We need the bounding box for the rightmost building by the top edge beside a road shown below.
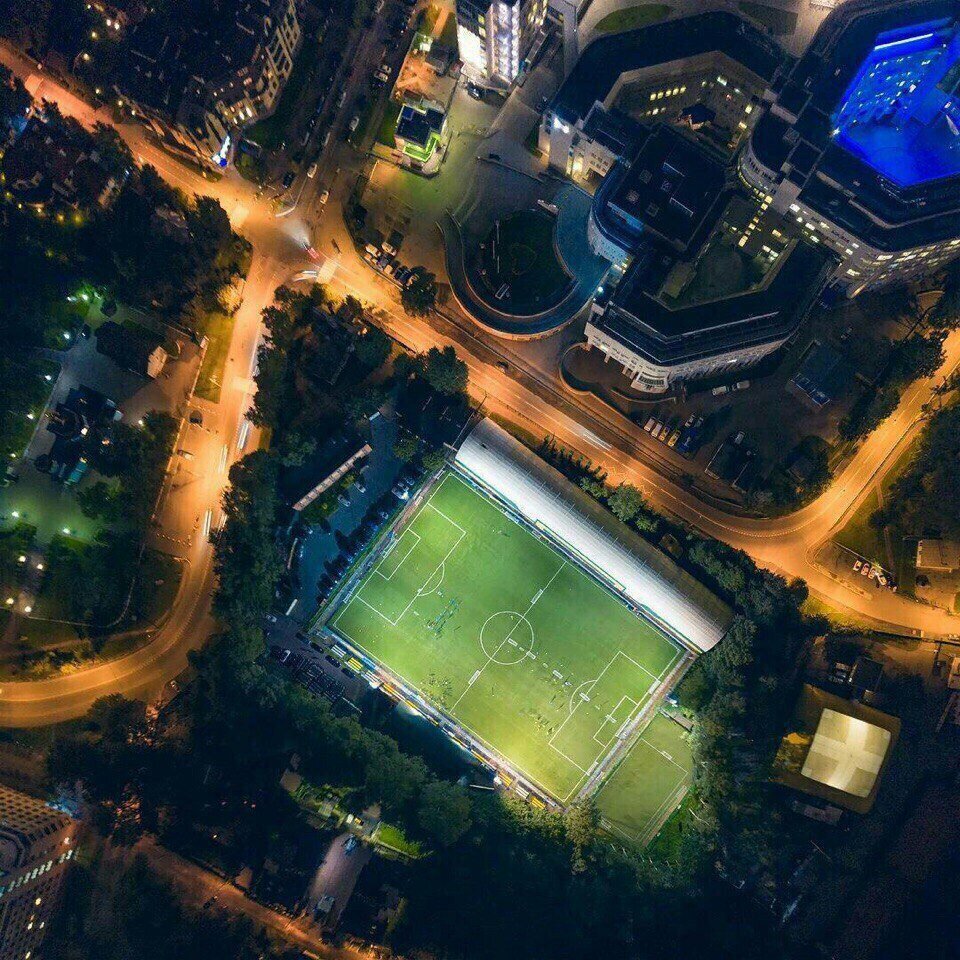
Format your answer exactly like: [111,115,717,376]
[726,0,960,286]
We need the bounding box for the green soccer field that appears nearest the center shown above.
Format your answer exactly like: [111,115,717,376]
[303,448,716,832]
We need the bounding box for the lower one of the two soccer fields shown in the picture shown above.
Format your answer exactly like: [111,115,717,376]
[594,712,699,848]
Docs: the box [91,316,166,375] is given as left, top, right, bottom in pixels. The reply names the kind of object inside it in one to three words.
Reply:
house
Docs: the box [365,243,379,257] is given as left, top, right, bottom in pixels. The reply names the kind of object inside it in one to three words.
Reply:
vehicle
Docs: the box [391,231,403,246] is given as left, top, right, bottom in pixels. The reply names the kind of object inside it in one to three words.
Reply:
vehicle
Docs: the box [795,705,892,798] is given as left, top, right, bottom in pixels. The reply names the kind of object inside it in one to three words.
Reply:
building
